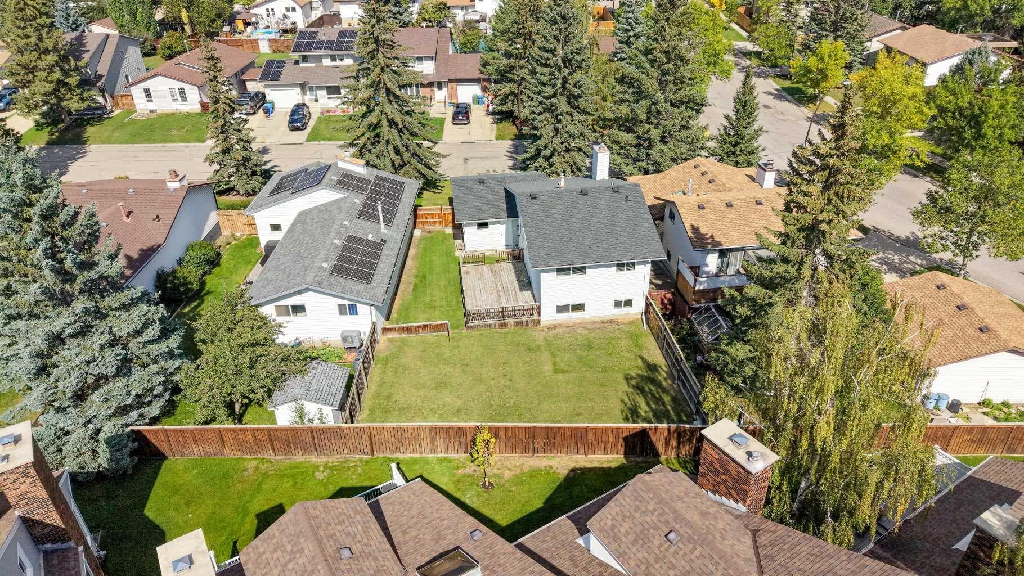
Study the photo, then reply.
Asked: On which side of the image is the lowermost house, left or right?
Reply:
left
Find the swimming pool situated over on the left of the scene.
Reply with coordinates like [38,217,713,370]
[244,30,279,44]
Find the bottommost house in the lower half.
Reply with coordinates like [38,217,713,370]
[151,526,219,576]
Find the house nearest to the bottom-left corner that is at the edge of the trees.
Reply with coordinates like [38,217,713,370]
[0,420,113,576]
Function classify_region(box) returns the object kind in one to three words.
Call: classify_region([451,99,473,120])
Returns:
car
